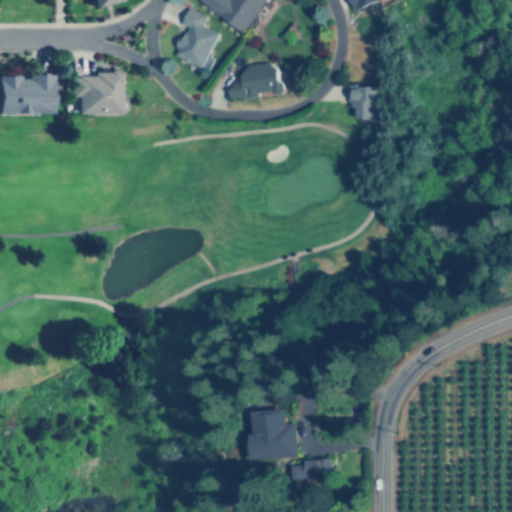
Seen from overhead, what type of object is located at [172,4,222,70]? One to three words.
house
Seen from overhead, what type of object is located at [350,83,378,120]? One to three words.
house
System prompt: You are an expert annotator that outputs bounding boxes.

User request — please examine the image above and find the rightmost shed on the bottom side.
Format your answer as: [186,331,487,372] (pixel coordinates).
[292,458,333,480]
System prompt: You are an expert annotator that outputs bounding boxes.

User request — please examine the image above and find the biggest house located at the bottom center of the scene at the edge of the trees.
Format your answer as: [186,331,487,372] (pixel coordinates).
[248,410,297,461]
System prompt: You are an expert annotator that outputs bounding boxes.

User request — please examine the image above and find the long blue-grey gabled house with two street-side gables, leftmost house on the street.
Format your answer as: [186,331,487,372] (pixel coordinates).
[4,73,60,116]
